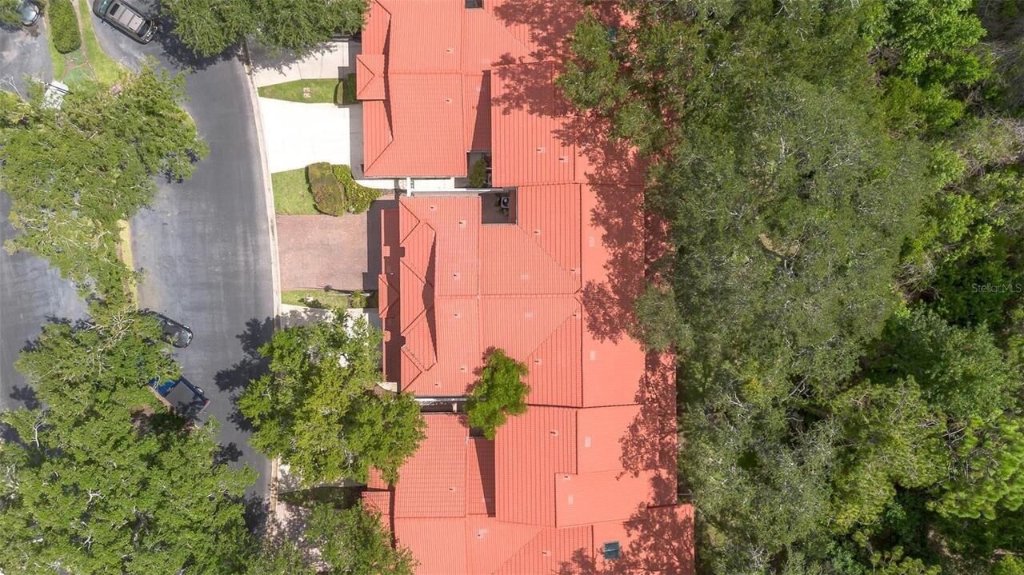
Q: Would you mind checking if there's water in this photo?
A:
No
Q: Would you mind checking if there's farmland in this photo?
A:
No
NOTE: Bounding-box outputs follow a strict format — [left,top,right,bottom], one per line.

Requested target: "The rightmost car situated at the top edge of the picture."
[86,0,165,48]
